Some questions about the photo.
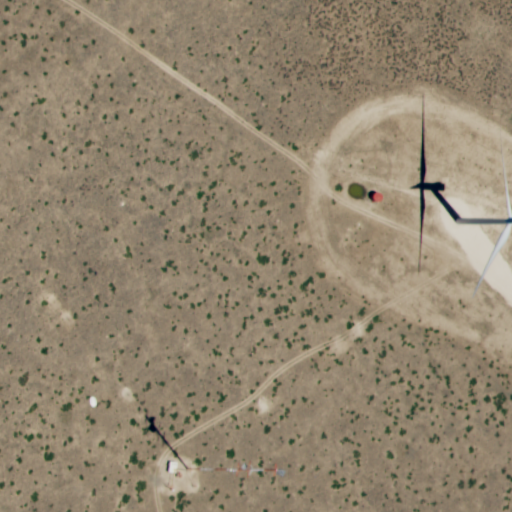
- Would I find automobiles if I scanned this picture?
No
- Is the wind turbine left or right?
right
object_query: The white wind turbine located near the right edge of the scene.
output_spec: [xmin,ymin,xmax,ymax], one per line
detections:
[454,214,512,292]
